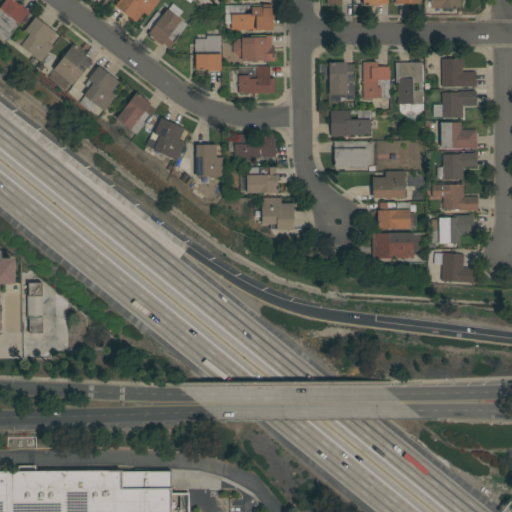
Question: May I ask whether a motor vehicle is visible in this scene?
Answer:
Yes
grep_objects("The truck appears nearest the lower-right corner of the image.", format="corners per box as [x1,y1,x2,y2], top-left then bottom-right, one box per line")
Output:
[394,446,424,470]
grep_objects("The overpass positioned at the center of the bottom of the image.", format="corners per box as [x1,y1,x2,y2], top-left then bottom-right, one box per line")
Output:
[176,382,424,420]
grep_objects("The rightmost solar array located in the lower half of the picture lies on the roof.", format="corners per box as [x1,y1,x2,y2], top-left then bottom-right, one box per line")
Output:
[67,493,86,511]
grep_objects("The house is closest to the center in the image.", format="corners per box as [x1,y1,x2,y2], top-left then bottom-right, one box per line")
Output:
[254,198,295,230]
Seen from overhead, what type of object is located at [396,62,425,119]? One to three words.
house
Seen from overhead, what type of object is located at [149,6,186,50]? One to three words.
house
